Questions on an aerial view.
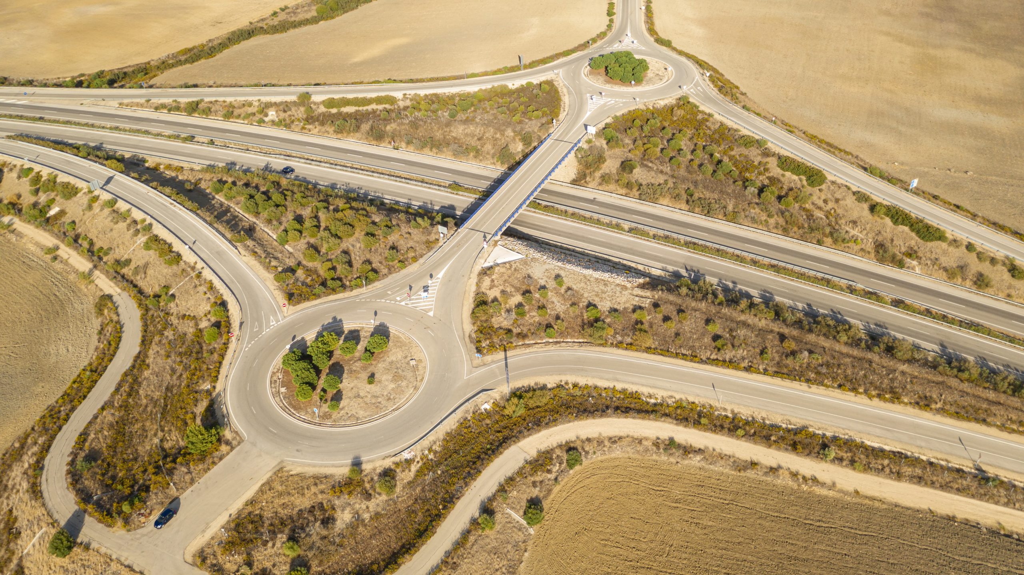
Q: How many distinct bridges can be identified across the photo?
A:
one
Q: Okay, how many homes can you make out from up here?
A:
0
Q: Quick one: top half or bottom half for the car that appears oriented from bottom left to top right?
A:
bottom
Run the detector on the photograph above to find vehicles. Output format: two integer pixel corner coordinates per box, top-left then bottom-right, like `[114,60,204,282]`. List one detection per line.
[152,507,176,529]
[281,167,294,174]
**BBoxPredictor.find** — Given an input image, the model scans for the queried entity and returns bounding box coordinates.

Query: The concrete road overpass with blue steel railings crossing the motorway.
[461,134,577,235]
